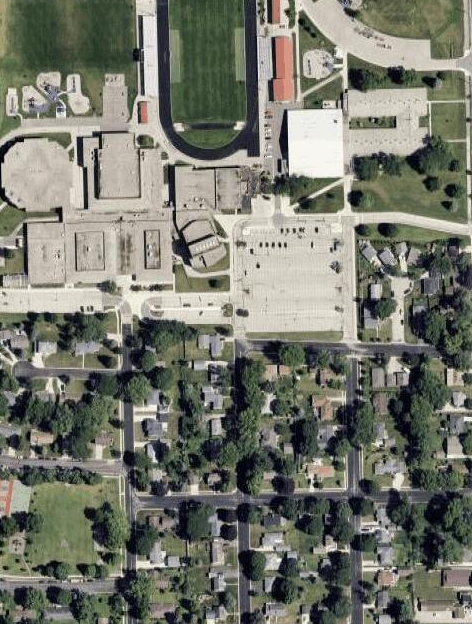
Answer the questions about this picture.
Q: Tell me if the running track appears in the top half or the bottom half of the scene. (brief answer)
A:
top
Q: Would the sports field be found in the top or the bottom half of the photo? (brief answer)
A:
top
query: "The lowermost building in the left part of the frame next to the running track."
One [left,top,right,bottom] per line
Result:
[1,133,240,285]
